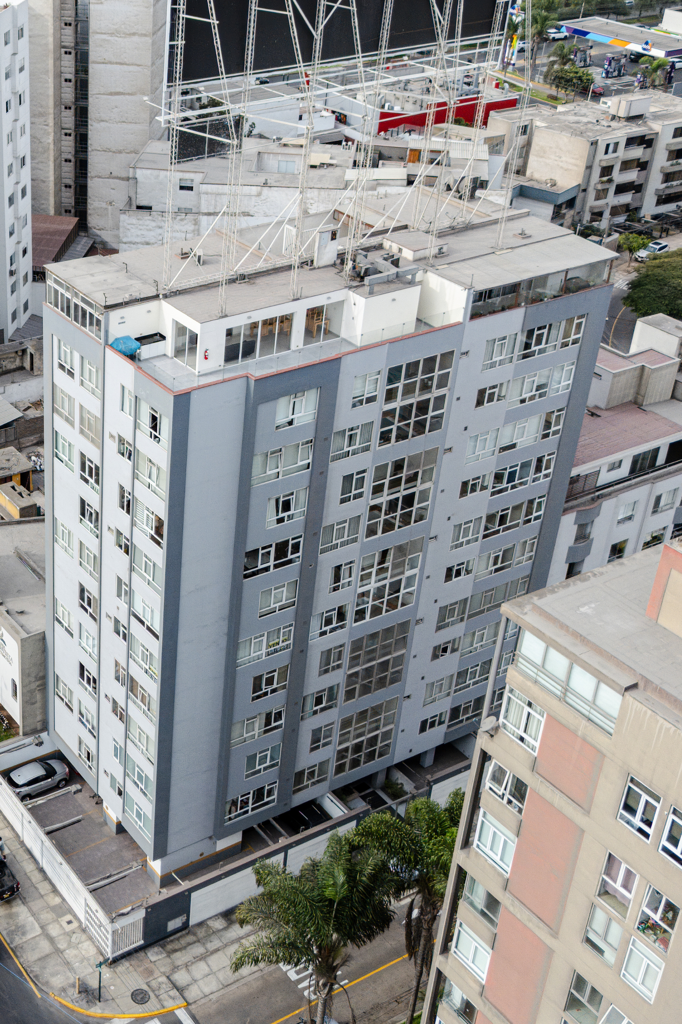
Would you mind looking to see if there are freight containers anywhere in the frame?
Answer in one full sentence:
No, there is no freight container in the image.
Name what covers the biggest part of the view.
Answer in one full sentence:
The bulk of the photo consists of buildings.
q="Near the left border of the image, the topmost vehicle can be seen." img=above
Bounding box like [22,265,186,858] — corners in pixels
[6,757,73,801]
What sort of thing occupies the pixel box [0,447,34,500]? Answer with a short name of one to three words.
house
